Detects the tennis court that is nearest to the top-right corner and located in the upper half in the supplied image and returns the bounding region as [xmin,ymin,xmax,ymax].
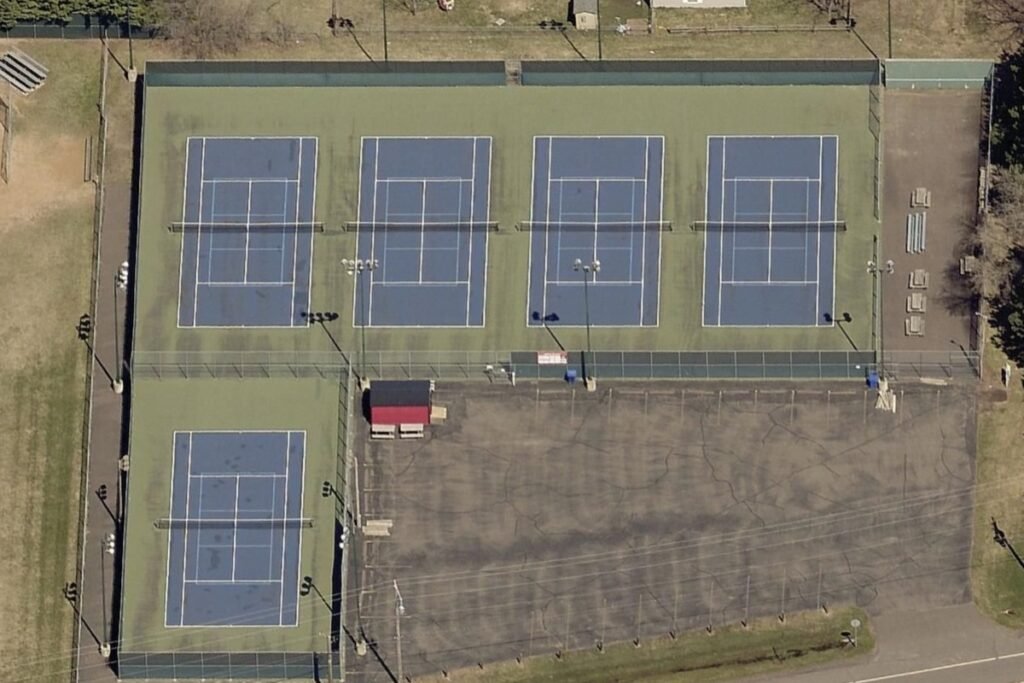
[703,136,837,326]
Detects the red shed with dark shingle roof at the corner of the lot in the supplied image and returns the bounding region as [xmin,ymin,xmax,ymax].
[369,380,437,426]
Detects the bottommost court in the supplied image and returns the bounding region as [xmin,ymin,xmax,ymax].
[165,431,306,626]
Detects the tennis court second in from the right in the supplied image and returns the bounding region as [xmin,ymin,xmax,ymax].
[528,136,664,327]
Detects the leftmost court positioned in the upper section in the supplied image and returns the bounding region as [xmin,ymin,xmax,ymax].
[178,137,317,327]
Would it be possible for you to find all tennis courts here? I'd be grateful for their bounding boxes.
[353,137,491,327]
[528,136,664,327]
[165,431,306,626]
[703,136,837,326]
[178,137,317,327]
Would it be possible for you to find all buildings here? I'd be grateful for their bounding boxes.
[653,0,746,8]
[369,380,437,426]
[573,0,598,29]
